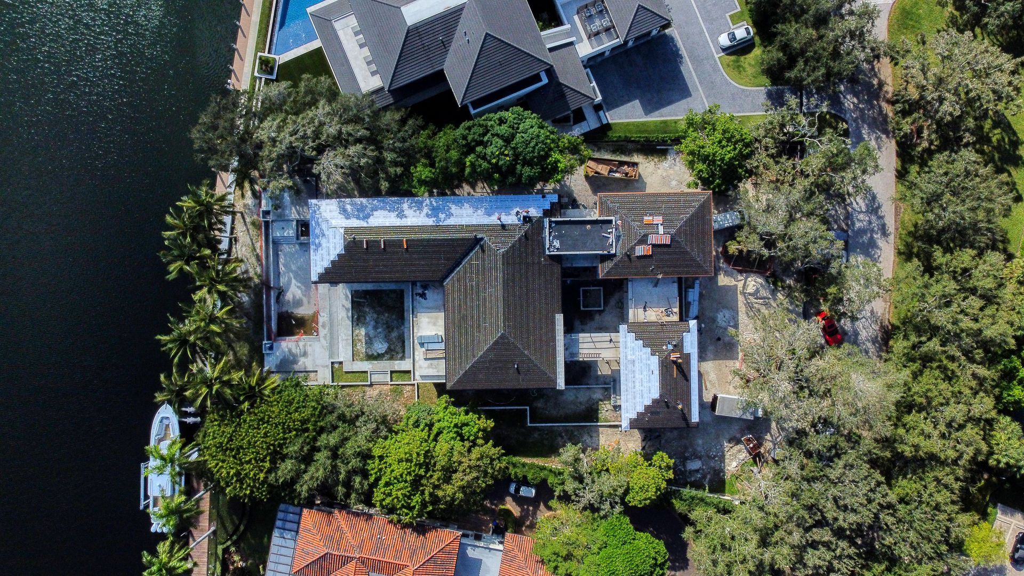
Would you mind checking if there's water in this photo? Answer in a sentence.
Yes, water can be seen from above here.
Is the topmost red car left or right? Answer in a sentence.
It is on the right.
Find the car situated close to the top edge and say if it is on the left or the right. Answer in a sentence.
It is on the right.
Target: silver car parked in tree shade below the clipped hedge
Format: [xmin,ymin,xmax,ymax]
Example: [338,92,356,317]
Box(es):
[507,480,537,497]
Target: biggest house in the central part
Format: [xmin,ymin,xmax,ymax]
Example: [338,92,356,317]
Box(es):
[309,189,716,431]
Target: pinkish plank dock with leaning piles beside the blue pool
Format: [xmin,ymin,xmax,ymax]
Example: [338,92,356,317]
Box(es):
[227,0,255,89]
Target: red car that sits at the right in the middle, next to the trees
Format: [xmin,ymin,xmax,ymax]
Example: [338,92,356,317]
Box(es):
[815,310,844,348]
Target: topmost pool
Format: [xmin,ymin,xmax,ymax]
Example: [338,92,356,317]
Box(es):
[271,0,332,66]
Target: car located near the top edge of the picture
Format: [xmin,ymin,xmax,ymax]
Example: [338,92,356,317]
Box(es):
[716,26,753,51]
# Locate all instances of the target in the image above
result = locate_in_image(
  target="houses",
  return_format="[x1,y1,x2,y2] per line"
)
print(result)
[291,499,542,576]
[309,189,716,431]
[309,0,671,134]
